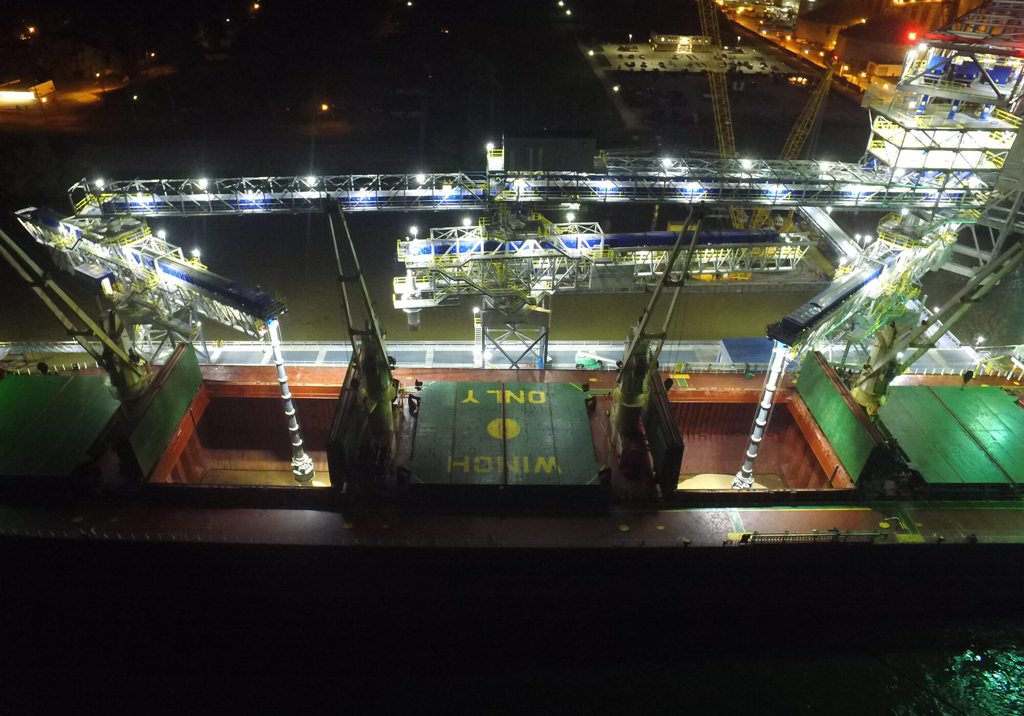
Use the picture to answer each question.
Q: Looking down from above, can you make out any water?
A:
Yes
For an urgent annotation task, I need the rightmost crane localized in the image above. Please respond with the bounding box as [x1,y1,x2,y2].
[845,226,1024,427]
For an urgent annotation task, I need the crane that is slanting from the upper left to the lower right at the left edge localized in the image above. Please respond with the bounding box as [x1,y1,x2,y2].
[0,214,157,423]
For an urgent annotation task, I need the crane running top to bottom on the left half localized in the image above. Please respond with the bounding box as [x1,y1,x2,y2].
[325,198,404,452]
